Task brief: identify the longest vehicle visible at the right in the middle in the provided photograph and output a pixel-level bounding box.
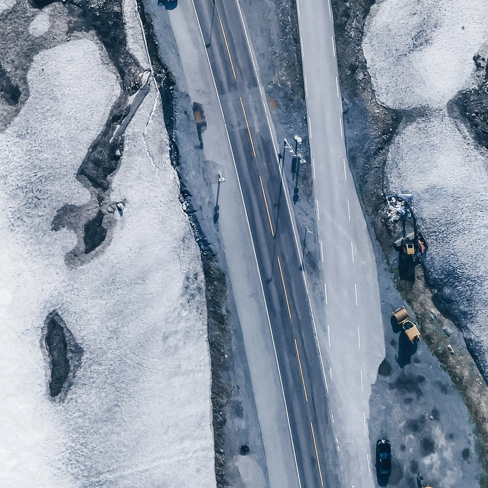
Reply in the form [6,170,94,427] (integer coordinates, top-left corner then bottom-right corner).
[399,199,428,267]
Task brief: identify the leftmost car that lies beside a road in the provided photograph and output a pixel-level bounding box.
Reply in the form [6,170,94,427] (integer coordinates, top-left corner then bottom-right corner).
[375,440,392,475]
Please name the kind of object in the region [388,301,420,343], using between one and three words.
work vehicle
